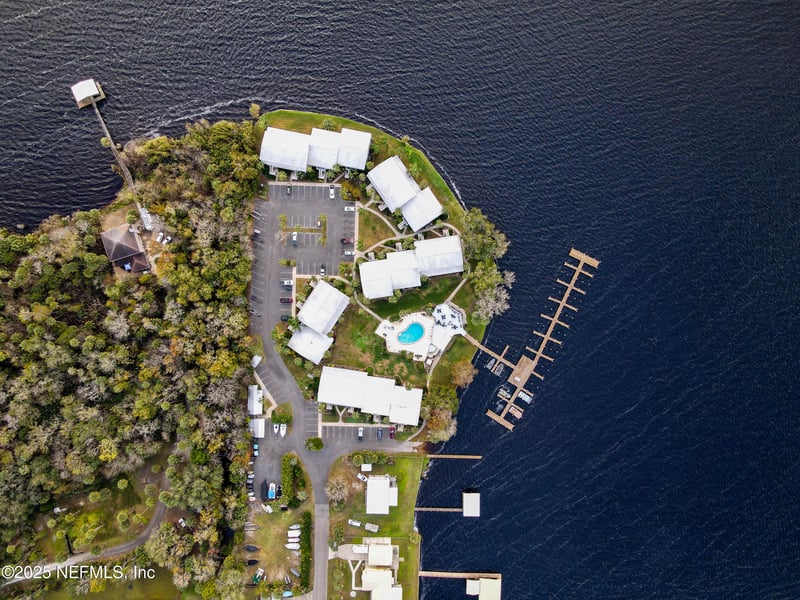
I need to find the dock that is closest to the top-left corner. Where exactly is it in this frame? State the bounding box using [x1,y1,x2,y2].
[92,103,142,209]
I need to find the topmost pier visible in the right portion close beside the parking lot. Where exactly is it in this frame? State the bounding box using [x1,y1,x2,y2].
[462,248,600,430]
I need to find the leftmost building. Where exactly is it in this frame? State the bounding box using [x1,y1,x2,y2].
[71,79,105,109]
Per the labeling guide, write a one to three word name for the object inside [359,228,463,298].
building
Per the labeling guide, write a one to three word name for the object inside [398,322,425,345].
swimming pool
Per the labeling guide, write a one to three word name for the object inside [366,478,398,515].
house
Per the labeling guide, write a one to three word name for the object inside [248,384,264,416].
shed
